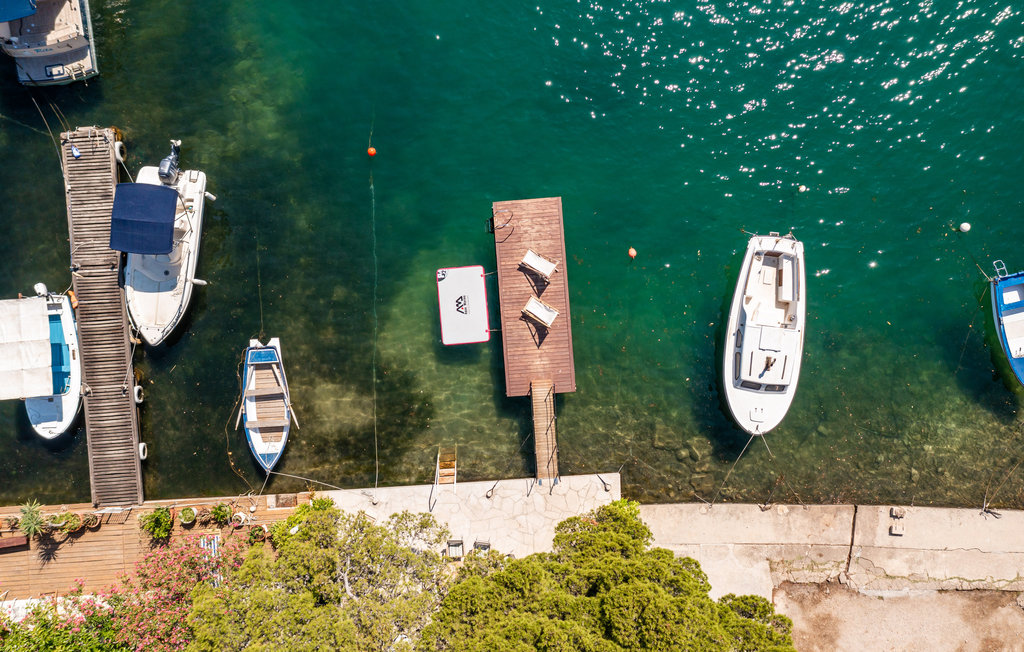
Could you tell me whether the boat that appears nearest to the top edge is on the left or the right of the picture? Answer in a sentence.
The boat that appears nearest to the top edge is on the left side of the image.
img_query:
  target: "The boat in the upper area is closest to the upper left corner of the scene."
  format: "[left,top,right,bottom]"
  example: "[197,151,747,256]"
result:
[0,0,103,88]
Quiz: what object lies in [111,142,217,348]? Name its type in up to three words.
boat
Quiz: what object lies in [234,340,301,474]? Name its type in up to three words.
boat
